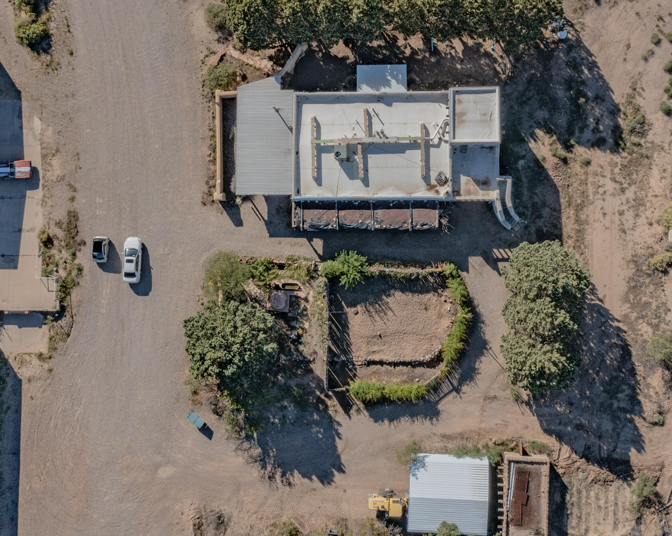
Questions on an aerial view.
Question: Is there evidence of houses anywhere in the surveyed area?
Yes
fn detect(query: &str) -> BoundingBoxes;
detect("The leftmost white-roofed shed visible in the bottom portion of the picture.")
[407,449,488,536]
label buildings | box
[294,83,500,202]
[496,441,549,536]
[407,449,488,536]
